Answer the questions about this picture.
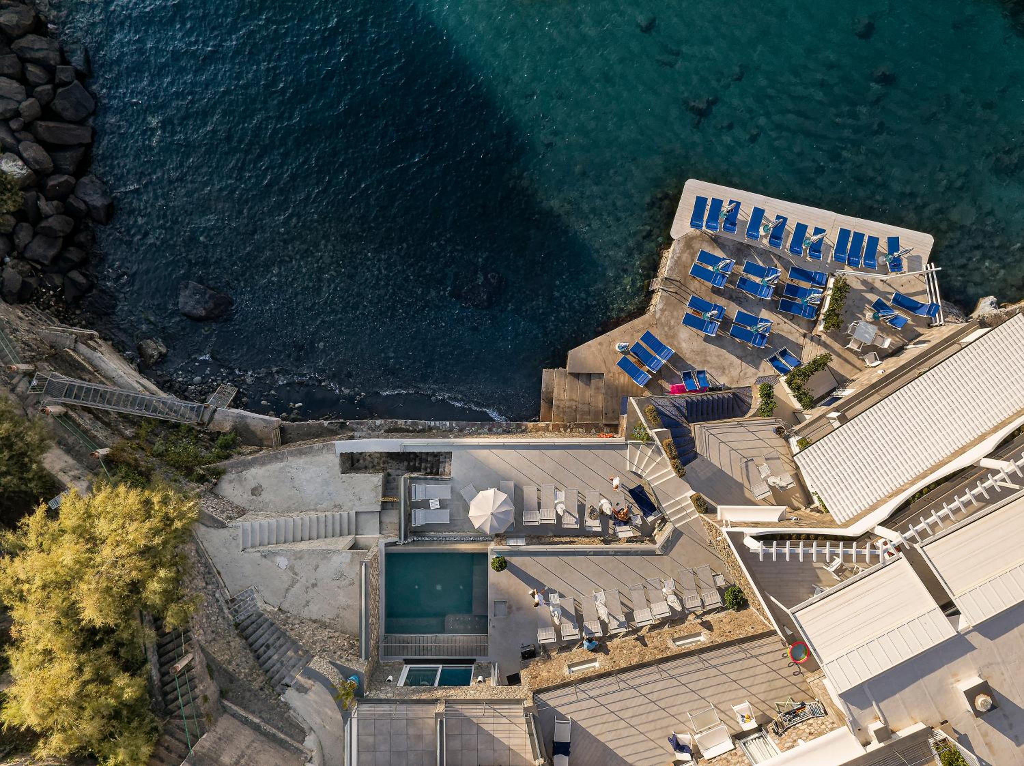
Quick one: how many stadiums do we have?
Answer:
zero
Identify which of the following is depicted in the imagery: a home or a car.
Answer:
home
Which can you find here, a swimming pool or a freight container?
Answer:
swimming pool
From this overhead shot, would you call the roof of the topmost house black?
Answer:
No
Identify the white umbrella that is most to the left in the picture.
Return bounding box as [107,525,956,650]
[467,485,518,537]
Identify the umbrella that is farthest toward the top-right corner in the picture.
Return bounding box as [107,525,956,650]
[877,249,911,265]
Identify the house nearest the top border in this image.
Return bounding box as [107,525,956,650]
[785,305,1024,525]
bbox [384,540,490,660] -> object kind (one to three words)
swimming pool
